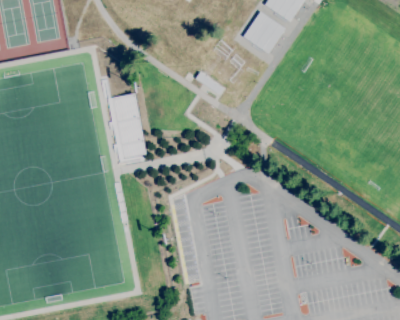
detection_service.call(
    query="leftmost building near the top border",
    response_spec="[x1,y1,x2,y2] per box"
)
[244,12,284,53]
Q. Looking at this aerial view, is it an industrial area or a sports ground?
sports ground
